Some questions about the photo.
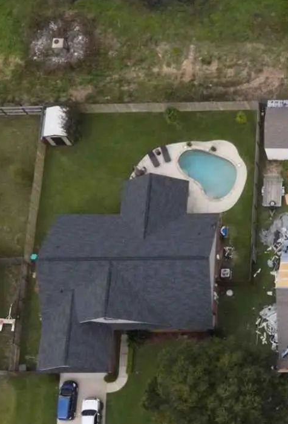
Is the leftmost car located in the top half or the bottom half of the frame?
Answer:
bottom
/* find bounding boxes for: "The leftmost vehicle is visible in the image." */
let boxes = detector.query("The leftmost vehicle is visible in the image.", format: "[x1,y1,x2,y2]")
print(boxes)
[52,380,78,422]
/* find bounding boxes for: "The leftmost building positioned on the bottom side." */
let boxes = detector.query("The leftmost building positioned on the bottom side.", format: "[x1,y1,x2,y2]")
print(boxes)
[37,174,222,373]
